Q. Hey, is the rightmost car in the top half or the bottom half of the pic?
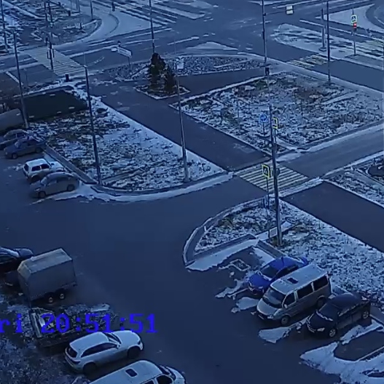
bottom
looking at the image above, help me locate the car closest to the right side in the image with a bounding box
[301,289,376,339]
